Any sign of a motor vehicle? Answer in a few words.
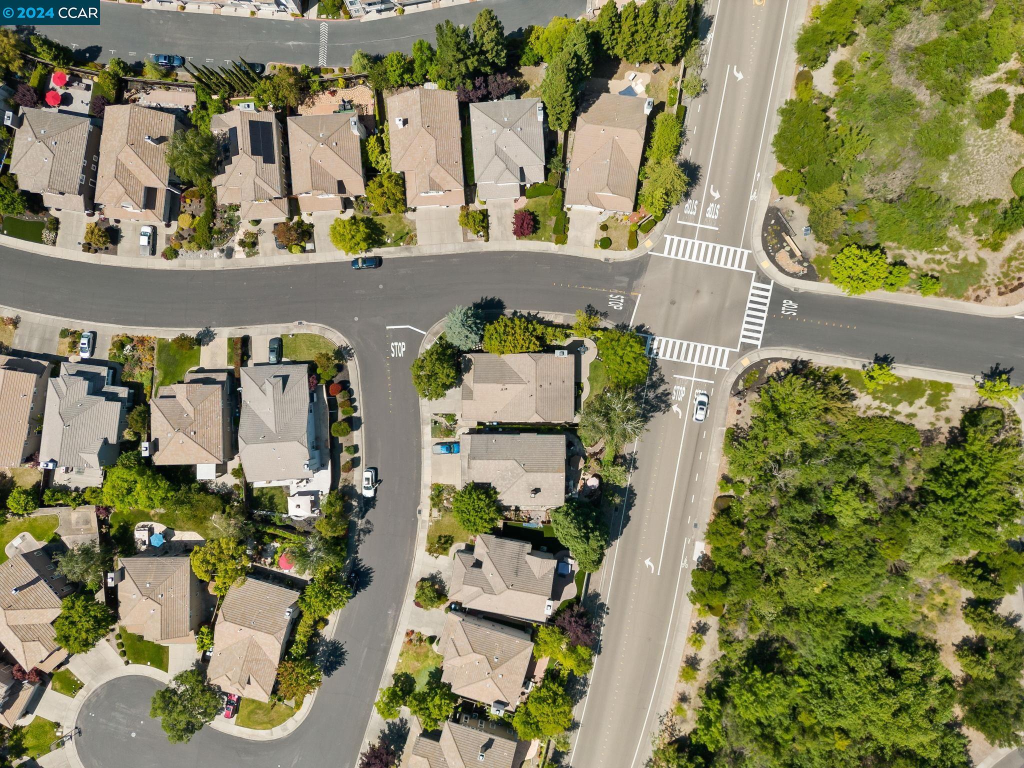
Yes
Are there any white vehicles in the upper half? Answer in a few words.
Yes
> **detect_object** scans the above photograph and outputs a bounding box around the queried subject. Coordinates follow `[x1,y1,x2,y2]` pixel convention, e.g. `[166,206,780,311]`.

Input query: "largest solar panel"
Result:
[250,120,275,164]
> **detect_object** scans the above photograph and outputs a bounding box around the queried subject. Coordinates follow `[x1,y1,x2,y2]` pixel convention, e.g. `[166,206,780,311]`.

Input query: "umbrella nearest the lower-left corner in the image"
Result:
[150,533,166,548]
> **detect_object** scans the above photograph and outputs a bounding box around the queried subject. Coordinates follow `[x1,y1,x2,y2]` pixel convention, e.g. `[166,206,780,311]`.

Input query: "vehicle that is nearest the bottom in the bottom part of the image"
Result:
[225,694,241,720]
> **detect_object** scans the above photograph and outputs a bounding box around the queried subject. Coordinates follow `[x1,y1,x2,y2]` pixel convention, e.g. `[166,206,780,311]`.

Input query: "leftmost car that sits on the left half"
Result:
[79,329,98,361]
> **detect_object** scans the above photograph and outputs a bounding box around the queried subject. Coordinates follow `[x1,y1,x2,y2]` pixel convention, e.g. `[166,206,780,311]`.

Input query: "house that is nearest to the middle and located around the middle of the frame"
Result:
[461,350,575,422]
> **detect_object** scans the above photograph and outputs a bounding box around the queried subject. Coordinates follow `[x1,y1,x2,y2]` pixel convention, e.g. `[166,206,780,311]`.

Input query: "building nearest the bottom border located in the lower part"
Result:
[400,708,518,768]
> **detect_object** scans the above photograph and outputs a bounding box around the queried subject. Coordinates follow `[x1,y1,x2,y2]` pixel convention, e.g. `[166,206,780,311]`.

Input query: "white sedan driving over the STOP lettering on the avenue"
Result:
[692,392,710,424]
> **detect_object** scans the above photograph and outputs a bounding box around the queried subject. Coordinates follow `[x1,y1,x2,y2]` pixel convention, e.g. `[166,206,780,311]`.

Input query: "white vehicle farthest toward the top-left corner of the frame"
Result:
[139,224,157,260]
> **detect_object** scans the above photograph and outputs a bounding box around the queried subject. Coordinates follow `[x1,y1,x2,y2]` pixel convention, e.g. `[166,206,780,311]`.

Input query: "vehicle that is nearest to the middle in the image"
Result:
[431,441,460,456]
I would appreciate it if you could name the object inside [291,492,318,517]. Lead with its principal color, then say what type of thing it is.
white gazebo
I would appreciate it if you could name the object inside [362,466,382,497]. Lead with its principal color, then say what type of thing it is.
white car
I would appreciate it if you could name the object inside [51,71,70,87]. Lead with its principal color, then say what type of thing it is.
red umbrella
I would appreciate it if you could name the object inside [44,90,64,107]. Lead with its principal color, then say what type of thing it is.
red umbrella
